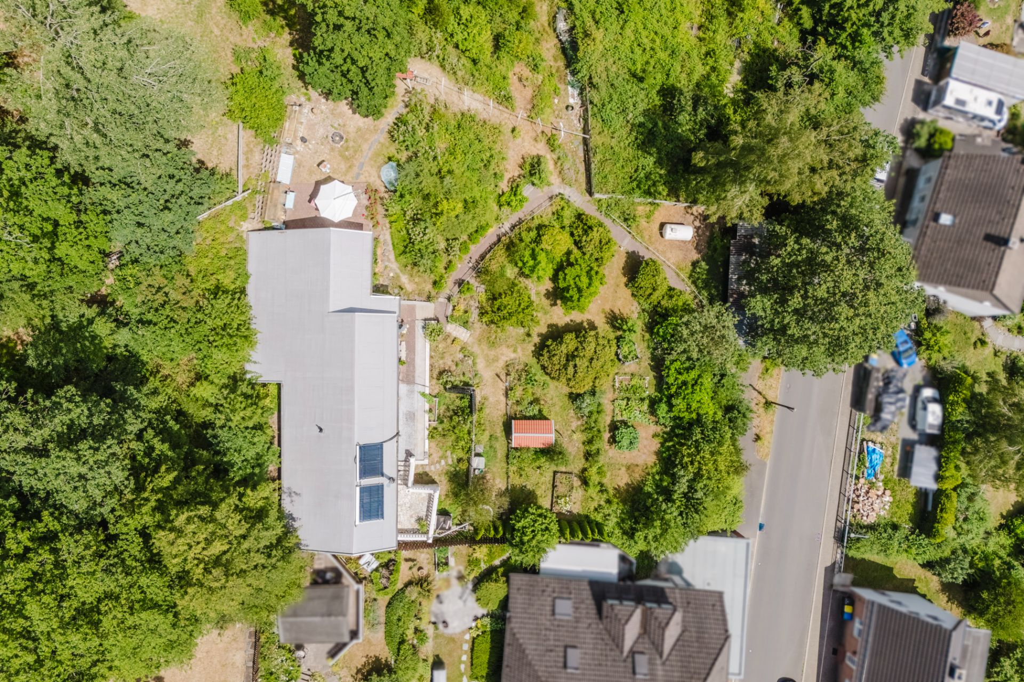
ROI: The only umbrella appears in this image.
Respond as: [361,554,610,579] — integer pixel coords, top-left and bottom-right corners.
[317,181,375,223]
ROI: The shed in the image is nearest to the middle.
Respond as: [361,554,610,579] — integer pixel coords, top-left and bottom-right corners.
[512,418,555,449]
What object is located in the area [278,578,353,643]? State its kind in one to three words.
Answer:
shed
